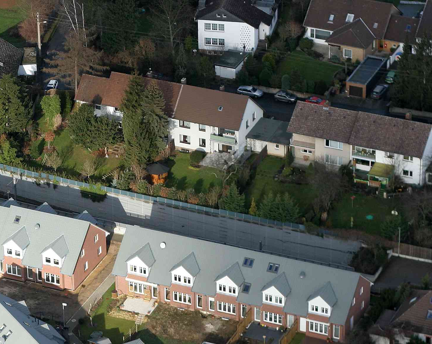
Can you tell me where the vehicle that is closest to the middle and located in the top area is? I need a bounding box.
[236,84,263,98]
